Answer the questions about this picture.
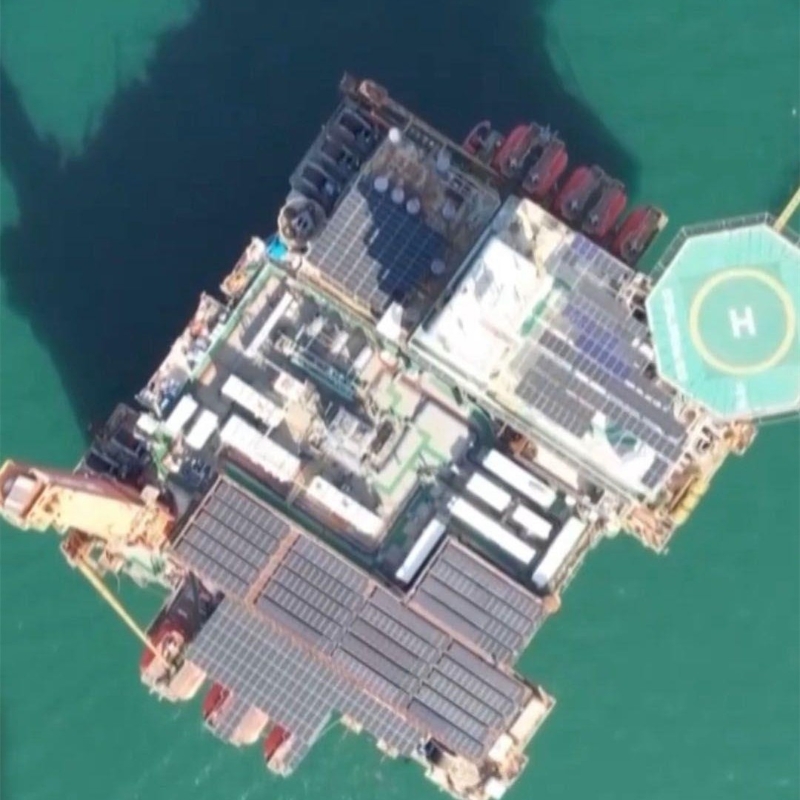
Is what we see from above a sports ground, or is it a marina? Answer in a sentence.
The picture captures a marina.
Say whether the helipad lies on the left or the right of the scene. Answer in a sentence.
The helipad appears in the right half of the scene.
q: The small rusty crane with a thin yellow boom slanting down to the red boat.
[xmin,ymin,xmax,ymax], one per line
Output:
[62,531,156,655]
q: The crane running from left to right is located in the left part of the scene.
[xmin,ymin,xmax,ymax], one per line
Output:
[0,461,181,550]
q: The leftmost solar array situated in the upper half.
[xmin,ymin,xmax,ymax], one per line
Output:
[303,180,455,317]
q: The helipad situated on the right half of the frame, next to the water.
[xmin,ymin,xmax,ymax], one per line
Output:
[638,216,800,427]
